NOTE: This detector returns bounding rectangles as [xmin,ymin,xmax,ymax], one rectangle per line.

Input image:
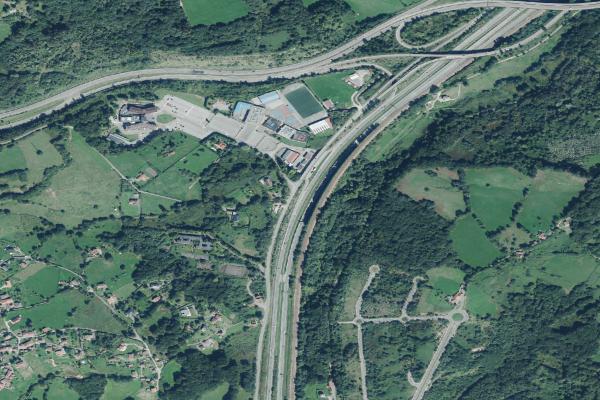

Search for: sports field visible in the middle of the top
[281,81,328,124]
